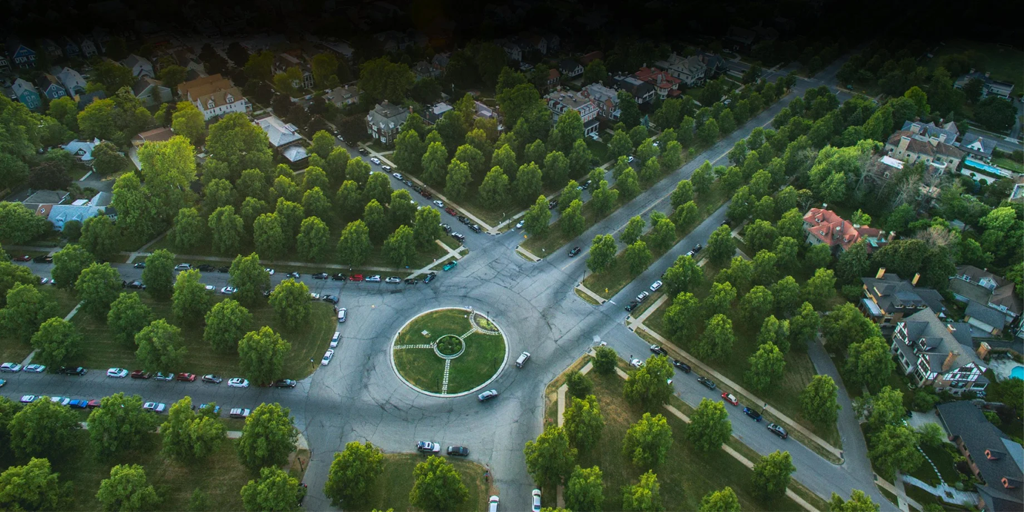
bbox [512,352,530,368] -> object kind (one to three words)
car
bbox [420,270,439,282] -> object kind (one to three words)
vehicle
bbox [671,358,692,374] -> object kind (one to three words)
car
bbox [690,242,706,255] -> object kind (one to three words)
vehicle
